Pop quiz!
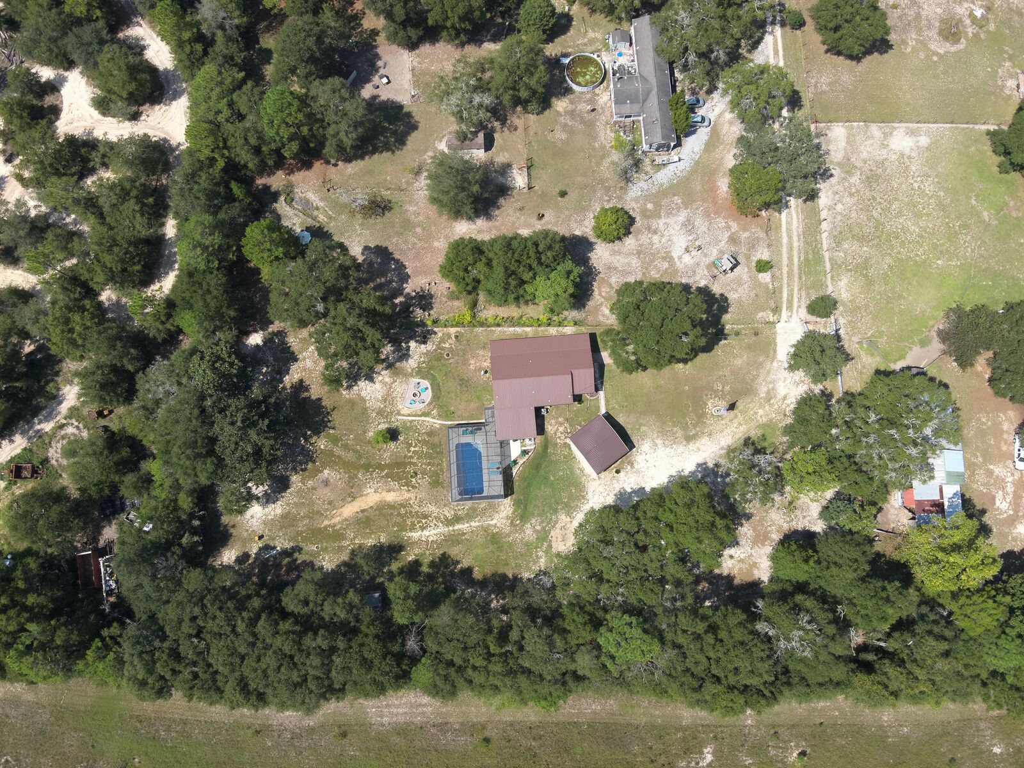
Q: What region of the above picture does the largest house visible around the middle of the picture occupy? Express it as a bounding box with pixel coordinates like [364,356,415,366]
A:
[489,333,595,440]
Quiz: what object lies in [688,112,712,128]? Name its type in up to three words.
car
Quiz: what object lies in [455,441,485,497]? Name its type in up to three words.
swimming pool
